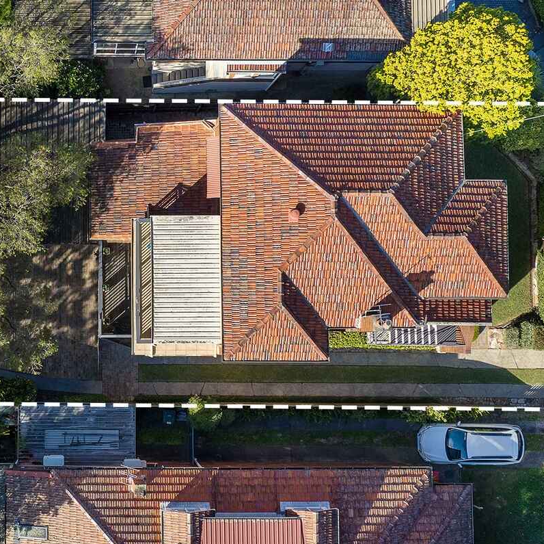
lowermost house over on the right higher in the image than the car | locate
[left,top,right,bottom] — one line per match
[217,102,512,363]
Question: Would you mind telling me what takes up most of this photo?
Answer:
buildings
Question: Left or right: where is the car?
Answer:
right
